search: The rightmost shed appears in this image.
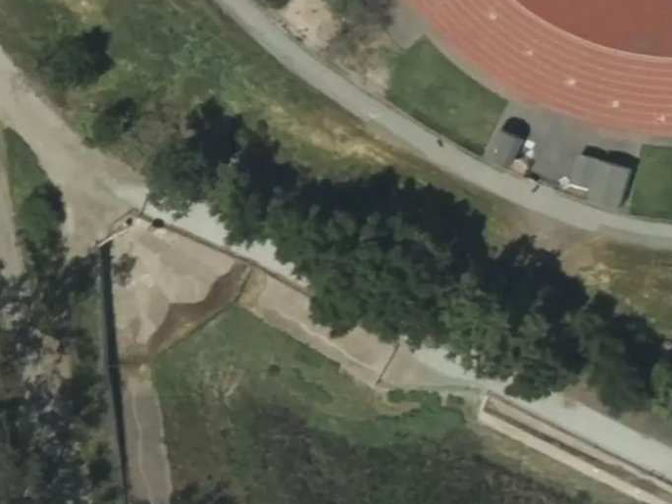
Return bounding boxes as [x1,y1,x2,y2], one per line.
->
[597,160,638,207]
